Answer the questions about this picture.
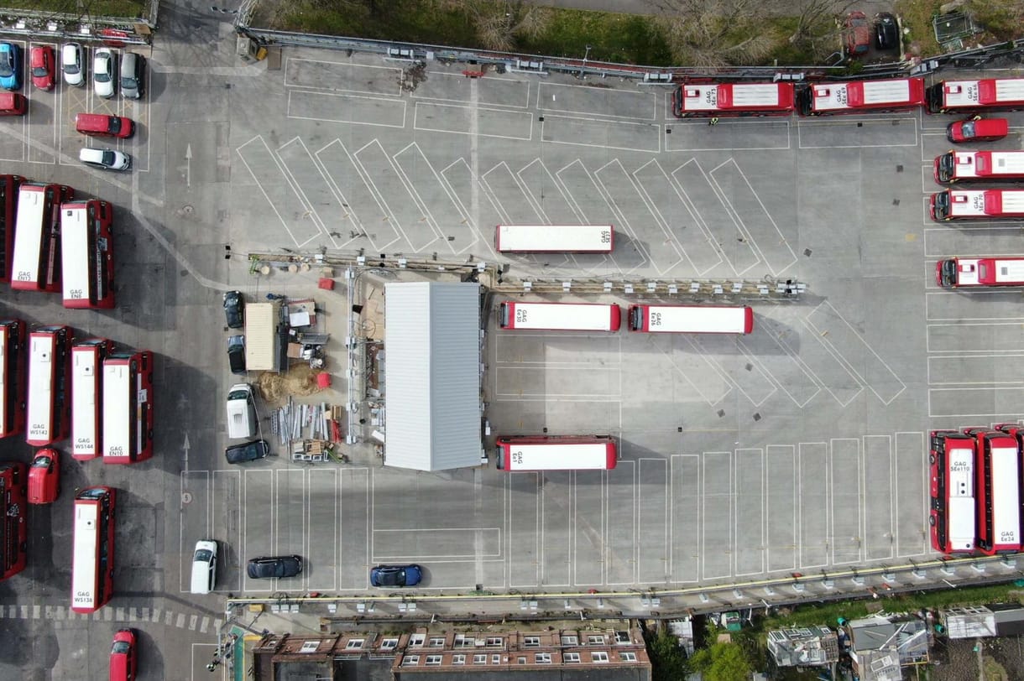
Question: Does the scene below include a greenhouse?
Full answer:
Yes, a greenhouse can be made out from above.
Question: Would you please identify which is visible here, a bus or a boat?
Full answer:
It is a bus that can be seen here.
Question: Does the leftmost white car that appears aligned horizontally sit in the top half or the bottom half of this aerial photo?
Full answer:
It is in the top half that the leftmost white car that appears aligned horizontally appears.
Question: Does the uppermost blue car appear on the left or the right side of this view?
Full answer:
The uppermost blue car is on the left side of the image.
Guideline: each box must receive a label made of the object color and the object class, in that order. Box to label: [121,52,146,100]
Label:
gray car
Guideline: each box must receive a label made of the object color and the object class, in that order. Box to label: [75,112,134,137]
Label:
red vehicle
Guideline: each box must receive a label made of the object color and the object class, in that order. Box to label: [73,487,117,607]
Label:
white bus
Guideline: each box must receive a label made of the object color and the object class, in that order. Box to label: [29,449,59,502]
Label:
red van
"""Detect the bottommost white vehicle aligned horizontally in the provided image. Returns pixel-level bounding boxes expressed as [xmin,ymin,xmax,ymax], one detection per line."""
[497,433,616,469]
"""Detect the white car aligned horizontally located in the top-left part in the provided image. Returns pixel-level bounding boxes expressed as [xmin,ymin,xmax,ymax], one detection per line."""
[81,147,133,171]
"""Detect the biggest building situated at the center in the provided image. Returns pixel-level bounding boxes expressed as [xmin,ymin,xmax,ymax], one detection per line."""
[383,282,489,471]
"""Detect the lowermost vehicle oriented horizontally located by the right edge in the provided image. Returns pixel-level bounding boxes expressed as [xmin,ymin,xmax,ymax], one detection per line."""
[936,254,1024,290]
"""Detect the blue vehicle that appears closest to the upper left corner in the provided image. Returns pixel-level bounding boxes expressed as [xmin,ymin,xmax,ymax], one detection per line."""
[0,43,22,90]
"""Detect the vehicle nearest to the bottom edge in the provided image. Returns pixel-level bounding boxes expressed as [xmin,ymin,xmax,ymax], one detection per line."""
[108,627,138,681]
